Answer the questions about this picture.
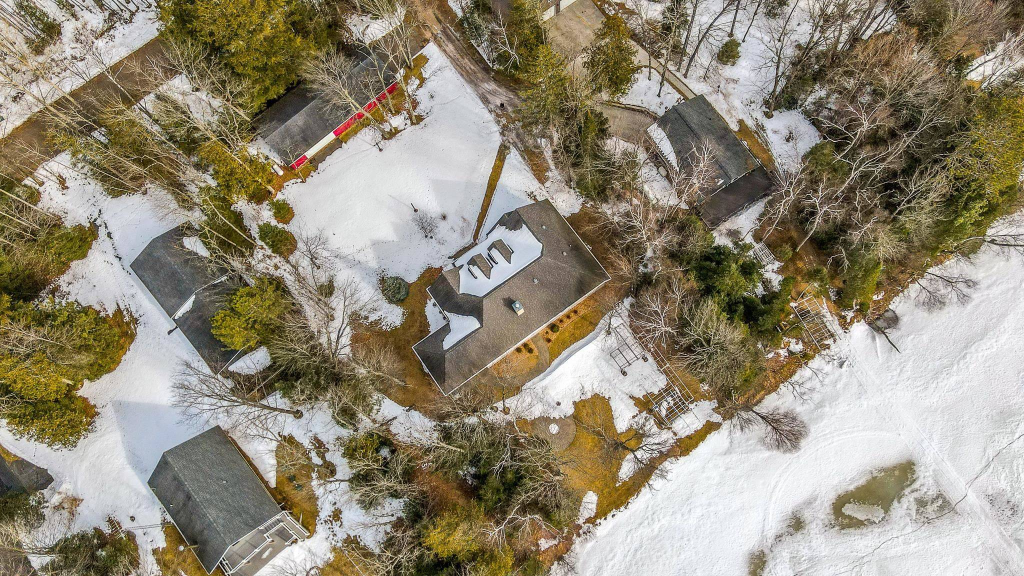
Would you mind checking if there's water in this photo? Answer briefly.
Yes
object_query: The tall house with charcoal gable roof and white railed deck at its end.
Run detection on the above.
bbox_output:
[147,425,315,576]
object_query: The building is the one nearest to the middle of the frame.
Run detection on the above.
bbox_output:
[412,198,611,396]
